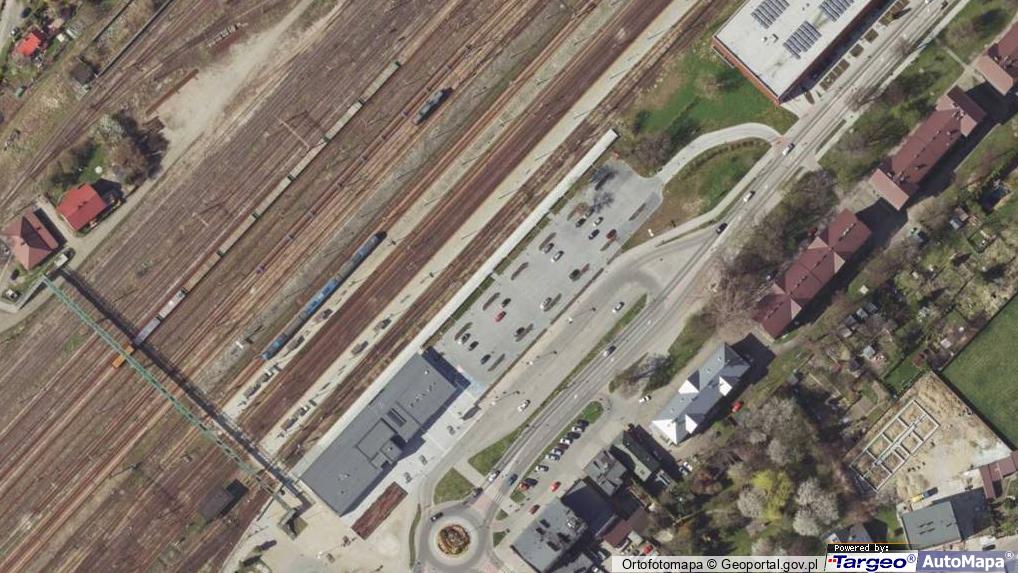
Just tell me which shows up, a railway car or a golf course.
railway car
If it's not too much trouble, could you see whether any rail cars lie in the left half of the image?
Yes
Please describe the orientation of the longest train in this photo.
on a diagonal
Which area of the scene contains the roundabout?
bottom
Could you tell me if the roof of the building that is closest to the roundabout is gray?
Yes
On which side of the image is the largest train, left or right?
left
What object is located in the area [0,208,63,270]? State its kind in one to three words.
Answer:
house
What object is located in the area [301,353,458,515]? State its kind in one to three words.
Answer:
train station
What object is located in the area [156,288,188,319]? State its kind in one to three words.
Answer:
rail car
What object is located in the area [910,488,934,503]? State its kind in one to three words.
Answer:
vehicle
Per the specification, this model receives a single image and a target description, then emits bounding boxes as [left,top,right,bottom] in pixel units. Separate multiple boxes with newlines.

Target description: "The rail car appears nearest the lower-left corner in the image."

[110,343,137,369]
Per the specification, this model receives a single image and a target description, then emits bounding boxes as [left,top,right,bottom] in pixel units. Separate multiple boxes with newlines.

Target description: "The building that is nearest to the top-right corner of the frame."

[968,19,1018,96]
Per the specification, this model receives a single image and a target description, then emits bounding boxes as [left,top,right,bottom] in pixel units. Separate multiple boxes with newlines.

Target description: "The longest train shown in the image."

[261,232,388,359]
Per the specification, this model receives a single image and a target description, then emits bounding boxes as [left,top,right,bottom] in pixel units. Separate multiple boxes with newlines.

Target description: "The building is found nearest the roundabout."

[510,493,588,573]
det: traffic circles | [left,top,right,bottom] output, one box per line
[416,501,492,573]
